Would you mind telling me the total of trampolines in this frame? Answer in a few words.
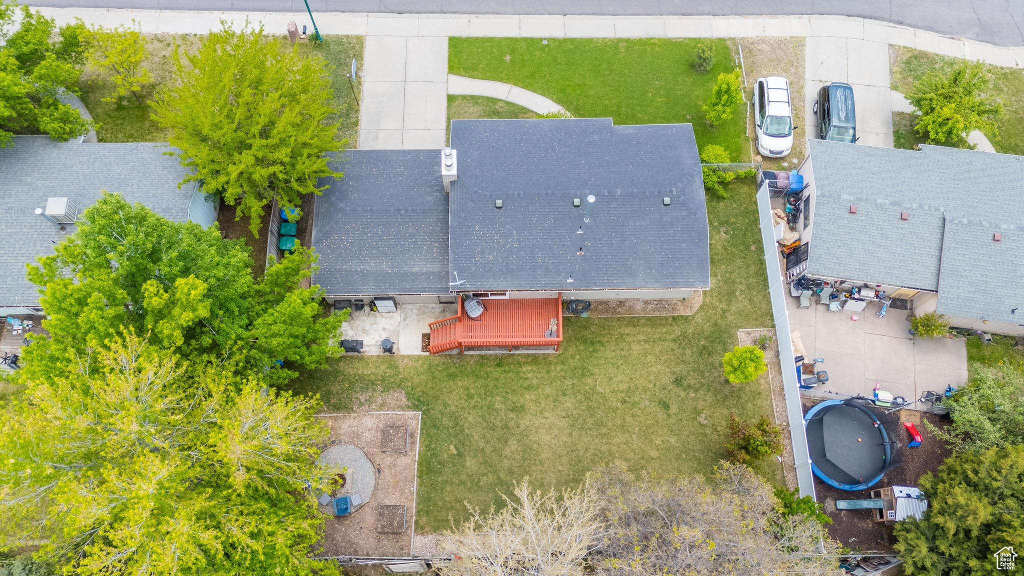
1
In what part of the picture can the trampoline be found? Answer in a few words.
bottom right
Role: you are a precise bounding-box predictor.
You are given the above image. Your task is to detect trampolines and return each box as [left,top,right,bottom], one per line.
[802,392,909,496]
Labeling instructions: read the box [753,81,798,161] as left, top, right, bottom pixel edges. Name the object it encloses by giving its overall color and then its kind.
white car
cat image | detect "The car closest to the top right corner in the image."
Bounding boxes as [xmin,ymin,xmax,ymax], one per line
[815,84,863,144]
